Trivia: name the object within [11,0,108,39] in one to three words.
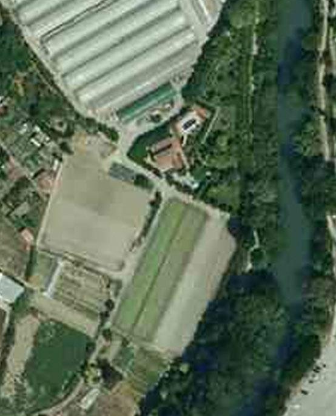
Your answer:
building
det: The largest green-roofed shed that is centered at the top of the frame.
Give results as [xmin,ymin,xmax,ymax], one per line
[117,84,178,122]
